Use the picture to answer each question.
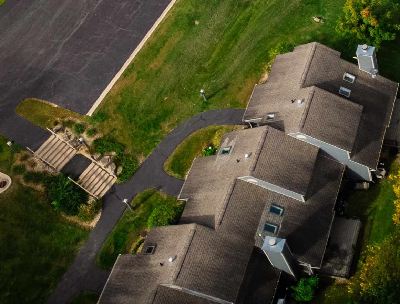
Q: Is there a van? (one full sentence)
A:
No, the photo shows no van.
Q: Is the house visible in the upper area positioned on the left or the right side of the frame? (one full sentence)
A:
The house visible in the upper area appears in the right half of the scene.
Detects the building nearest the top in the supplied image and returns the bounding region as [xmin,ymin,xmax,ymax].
[240,43,399,181]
